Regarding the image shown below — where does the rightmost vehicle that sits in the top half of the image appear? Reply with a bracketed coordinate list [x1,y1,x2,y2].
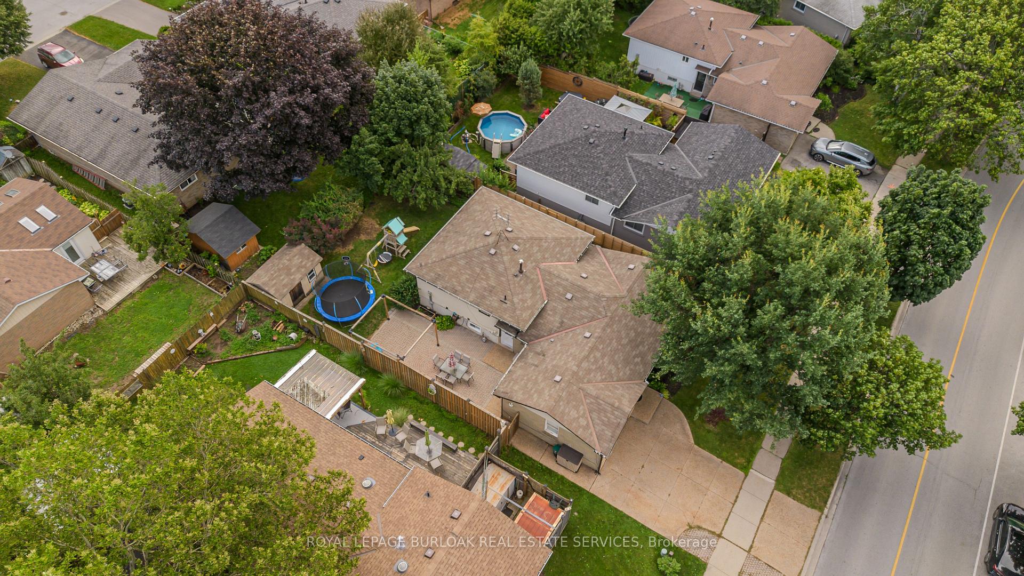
[811,138,881,177]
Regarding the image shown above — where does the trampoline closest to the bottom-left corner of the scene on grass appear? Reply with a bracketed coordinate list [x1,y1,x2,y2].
[313,261,378,330]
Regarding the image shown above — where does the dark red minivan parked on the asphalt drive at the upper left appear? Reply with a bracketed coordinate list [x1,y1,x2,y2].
[35,40,87,69]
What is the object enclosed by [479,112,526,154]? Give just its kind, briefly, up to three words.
swimming pool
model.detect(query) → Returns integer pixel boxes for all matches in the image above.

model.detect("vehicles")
[811,138,881,177]
[984,504,1024,576]
[35,40,87,69]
